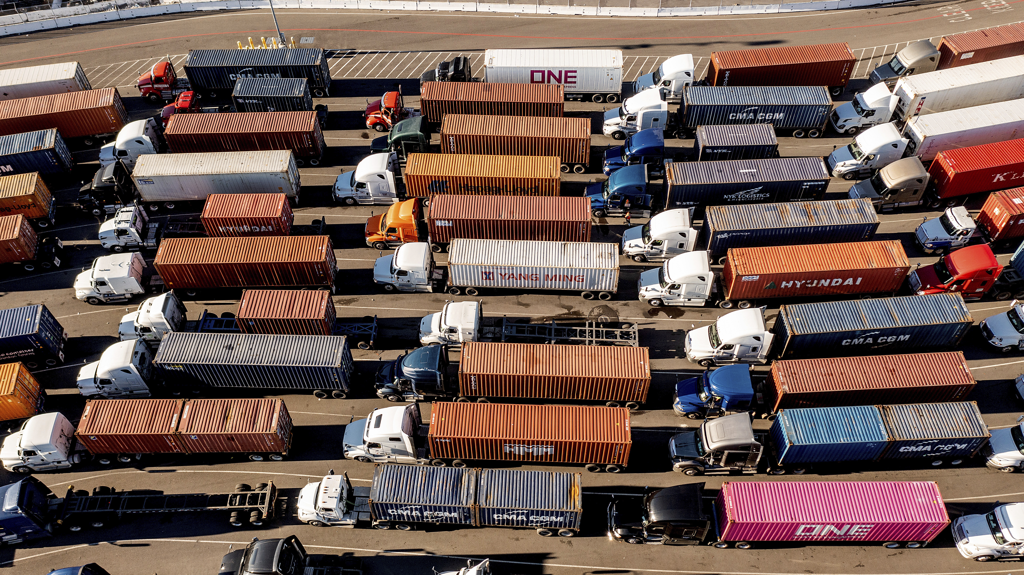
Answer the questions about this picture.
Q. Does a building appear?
No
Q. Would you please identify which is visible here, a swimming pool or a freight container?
freight container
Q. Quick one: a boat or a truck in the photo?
truck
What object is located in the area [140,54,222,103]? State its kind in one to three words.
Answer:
truck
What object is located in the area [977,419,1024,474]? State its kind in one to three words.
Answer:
truck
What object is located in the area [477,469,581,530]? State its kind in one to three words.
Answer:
shipping container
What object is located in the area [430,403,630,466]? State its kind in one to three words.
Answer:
shipping container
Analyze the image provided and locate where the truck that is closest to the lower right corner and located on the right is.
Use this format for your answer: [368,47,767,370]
[952,500,1024,562]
